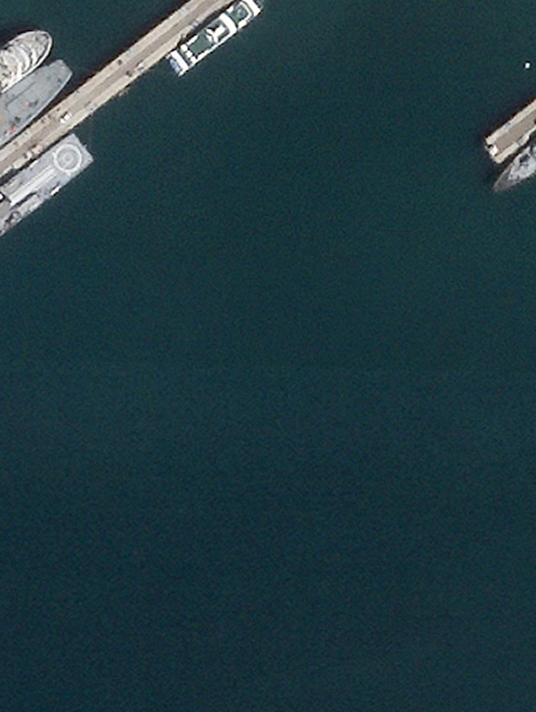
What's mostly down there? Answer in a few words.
water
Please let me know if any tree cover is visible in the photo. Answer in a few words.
No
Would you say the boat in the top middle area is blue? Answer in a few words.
No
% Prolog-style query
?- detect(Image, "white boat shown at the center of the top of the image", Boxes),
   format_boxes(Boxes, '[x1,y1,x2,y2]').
[156,0,266,76]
